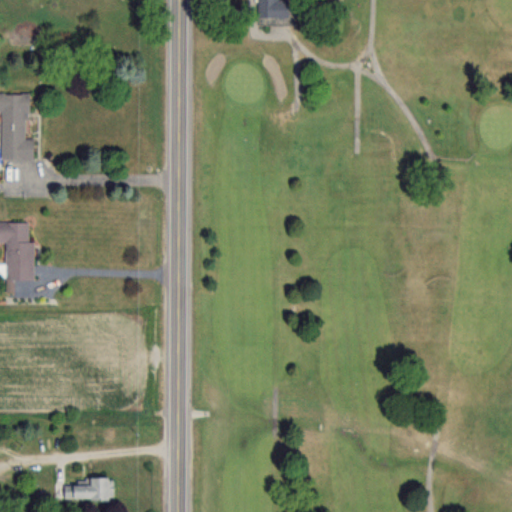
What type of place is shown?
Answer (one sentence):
It's a golf course.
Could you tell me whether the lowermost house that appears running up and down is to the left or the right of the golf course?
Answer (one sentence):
In the image, the lowermost house that appears running up and down sits on the left side of the golf course.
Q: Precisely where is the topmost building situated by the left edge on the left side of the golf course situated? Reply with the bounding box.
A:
[0,93,34,161]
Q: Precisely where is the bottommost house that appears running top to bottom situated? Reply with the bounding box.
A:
[0,222,35,295]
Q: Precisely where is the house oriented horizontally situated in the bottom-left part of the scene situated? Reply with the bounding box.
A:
[64,478,116,502]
